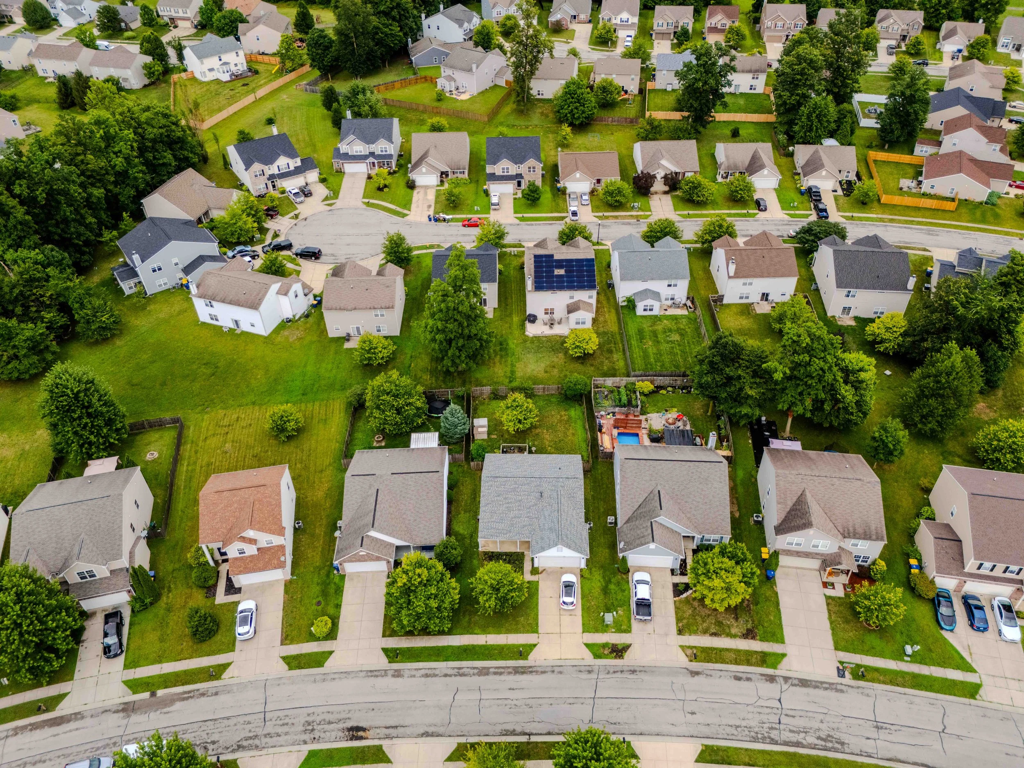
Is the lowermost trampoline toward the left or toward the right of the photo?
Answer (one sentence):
The lowermost trampoline appears in the right half of the scene.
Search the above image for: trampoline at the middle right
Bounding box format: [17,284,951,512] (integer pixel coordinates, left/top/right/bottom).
[824,432,858,454]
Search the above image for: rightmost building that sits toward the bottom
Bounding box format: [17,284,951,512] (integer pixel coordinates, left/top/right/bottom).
[914,465,1024,613]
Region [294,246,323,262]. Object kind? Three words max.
car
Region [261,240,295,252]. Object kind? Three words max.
vehicle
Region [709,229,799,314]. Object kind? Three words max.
house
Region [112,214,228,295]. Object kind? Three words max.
house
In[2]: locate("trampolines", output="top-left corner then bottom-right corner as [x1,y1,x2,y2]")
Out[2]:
[824,432,858,454]
[423,389,452,422]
